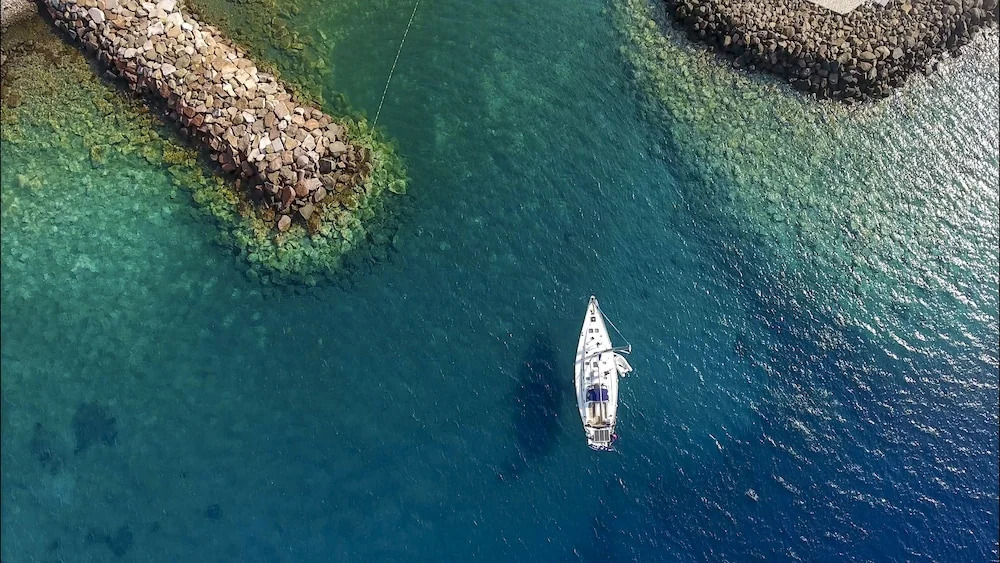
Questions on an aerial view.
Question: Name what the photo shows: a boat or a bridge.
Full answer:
Visible in the photo is a boat.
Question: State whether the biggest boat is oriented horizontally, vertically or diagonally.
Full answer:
I'd say the biggest boat is aligned vertically in the picture.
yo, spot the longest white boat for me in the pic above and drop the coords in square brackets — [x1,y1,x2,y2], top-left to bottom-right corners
[572,294,631,452]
